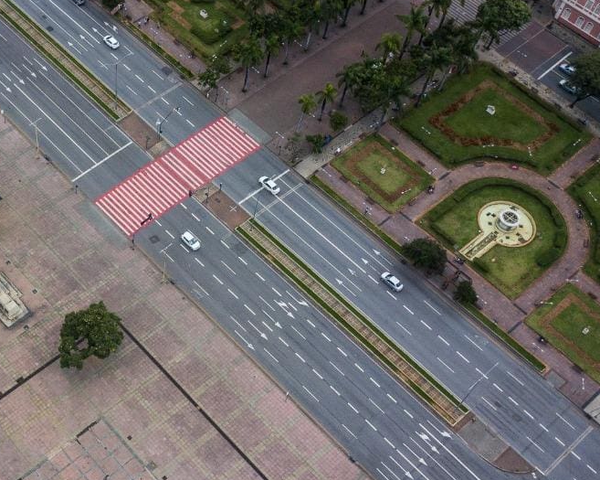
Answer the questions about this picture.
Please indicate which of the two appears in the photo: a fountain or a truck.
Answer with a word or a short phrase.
fountain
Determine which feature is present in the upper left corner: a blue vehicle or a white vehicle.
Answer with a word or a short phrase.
white vehicle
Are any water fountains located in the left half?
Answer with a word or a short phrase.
No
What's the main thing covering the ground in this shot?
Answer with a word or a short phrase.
paved ground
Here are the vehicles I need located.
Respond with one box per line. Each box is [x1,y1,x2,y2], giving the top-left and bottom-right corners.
[178,229,202,251]
[377,267,407,294]
[554,59,579,77]
[101,33,122,50]
[256,174,282,197]
[557,77,584,95]
[74,0,88,6]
